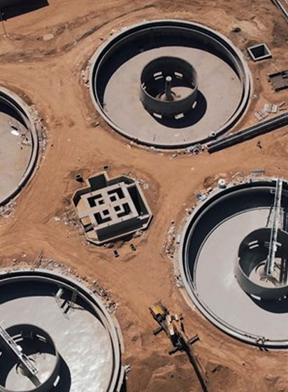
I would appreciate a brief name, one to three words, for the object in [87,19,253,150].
storage tank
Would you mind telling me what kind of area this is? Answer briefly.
industrial area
